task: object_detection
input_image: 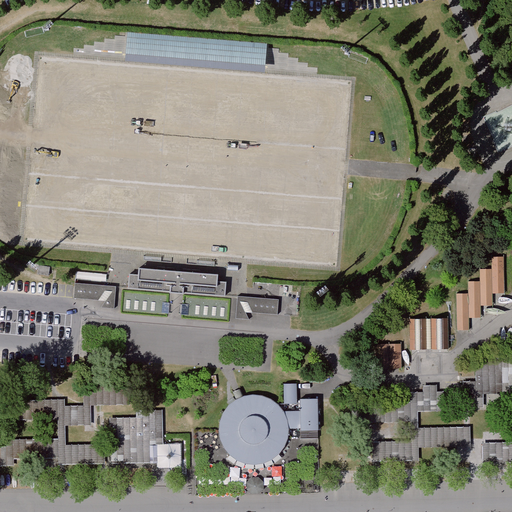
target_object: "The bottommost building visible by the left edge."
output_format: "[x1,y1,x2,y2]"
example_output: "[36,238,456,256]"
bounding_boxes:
[0,390,128,466]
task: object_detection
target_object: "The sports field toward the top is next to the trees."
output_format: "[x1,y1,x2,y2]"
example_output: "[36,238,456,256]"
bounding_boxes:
[20,52,356,270]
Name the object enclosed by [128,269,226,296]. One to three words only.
building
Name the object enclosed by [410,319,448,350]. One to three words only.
shed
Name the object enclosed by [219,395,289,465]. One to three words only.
building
